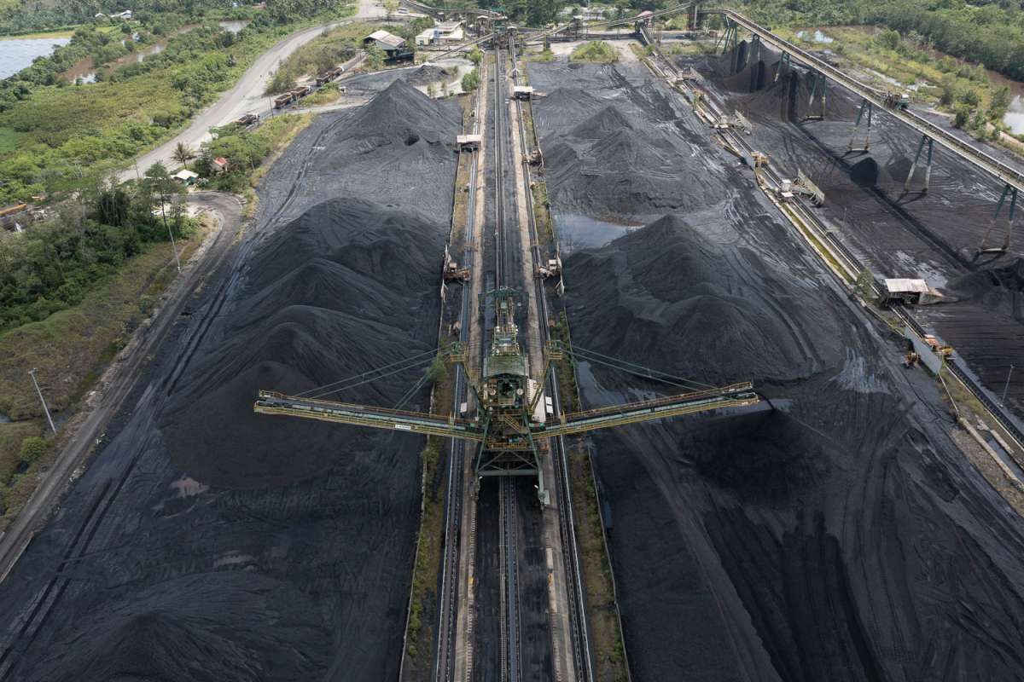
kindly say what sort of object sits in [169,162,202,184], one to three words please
shed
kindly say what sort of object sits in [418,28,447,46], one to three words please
building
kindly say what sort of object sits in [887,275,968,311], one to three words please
shed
